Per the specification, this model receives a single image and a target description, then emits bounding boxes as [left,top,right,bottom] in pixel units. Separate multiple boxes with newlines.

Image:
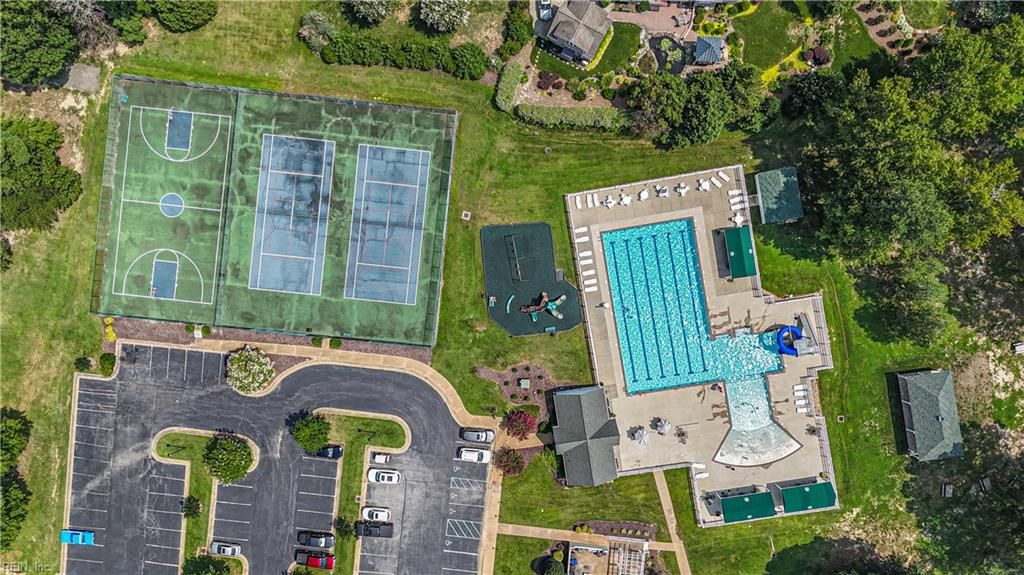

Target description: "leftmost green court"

[102,80,244,323]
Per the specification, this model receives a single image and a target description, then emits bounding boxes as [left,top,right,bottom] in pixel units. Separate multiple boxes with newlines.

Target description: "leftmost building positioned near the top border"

[544,0,623,71]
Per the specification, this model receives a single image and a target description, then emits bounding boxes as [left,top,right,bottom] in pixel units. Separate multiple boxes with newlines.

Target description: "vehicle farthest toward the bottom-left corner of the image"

[60,528,98,547]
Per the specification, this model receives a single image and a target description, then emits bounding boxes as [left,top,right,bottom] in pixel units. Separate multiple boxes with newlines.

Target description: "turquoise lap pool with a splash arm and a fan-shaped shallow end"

[588,204,822,477]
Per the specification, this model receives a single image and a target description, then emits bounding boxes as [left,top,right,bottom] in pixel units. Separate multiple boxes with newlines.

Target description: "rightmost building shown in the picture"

[897,368,964,461]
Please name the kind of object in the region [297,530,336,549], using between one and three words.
vehicle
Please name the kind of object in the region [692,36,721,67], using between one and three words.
gazebo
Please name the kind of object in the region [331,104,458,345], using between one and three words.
tennis court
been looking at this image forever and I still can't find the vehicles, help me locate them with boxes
[312,445,343,460]
[462,428,495,445]
[367,467,401,484]
[363,505,392,521]
[60,528,98,547]
[538,0,554,22]
[295,551,335,570]
[213,539,242,555]
[374,452,390,464]
[356,519,394,537]
[297,530,336,549]
[458,446,491,464]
